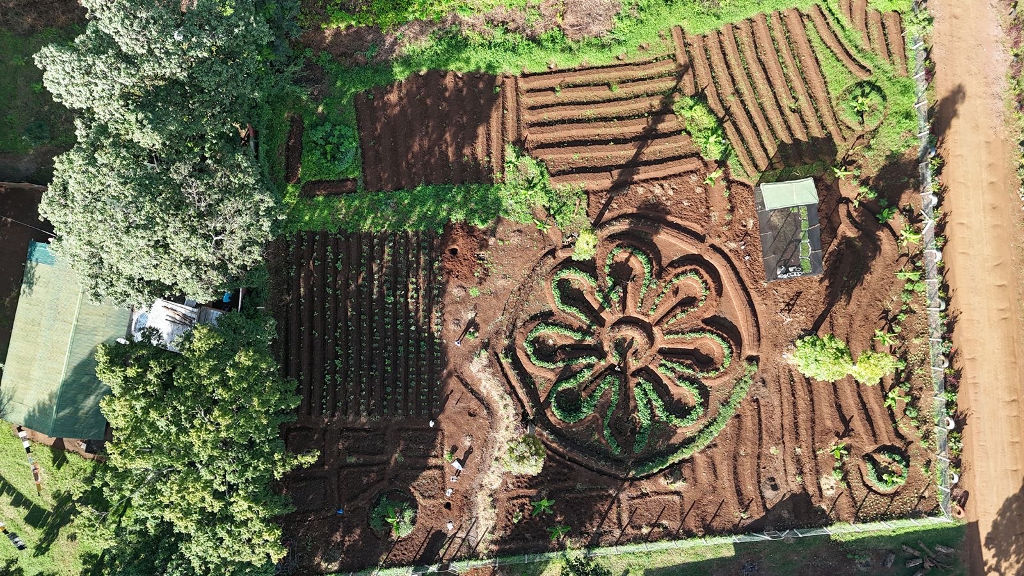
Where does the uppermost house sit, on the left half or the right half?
right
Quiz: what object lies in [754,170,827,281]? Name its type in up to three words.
house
